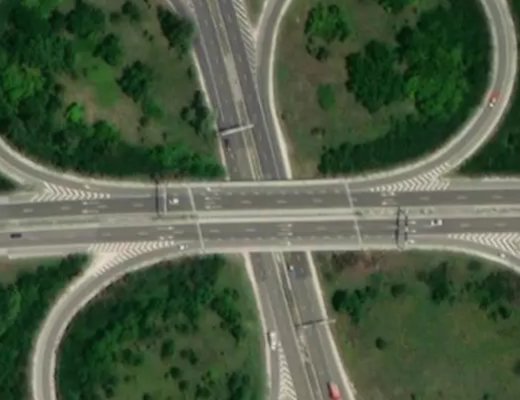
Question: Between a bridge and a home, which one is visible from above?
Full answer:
The one in the frame is a bridge.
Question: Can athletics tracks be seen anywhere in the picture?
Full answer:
No, I can't see a single athletics track in this photo.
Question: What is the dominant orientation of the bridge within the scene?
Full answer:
The bridge runs horizontally in the image.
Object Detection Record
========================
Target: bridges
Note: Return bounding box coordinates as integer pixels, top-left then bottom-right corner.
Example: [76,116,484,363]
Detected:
[188,178,362,254]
